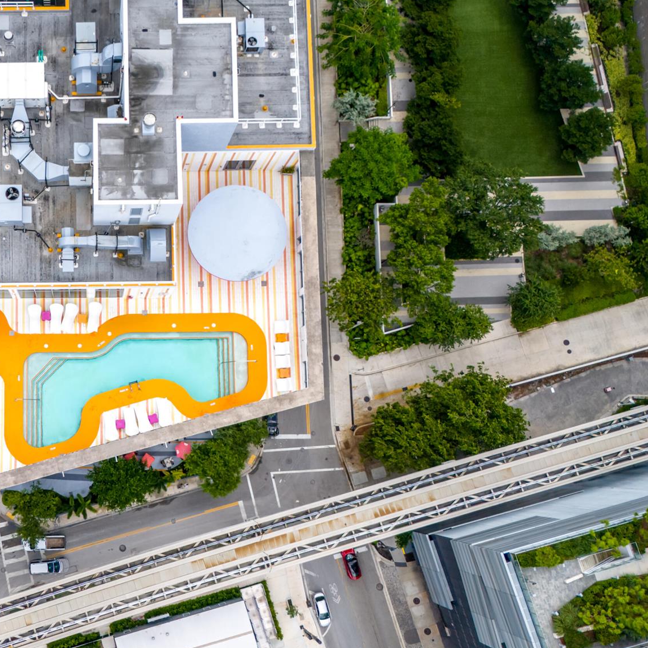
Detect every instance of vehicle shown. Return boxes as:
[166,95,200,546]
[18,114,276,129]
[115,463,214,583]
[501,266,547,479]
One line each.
[310,589,331,629]
[23,534,67,551]
[339,549,362,582]
[30,557,69,575]
[263,407,281,443]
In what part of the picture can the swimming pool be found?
left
